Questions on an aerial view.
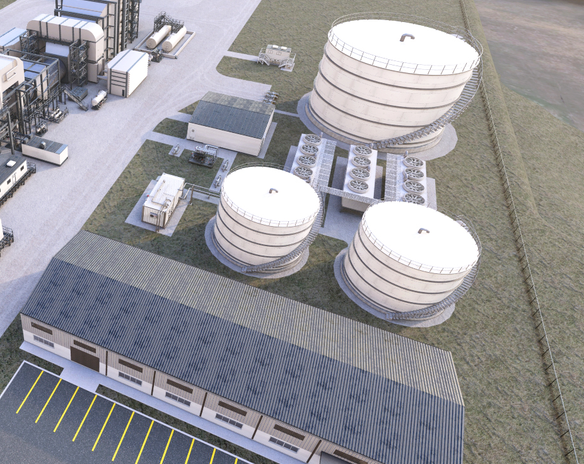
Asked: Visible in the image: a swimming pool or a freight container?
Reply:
freight container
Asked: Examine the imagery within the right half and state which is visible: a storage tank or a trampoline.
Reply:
storage tank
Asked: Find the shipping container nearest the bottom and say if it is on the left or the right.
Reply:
left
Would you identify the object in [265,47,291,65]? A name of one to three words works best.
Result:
building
